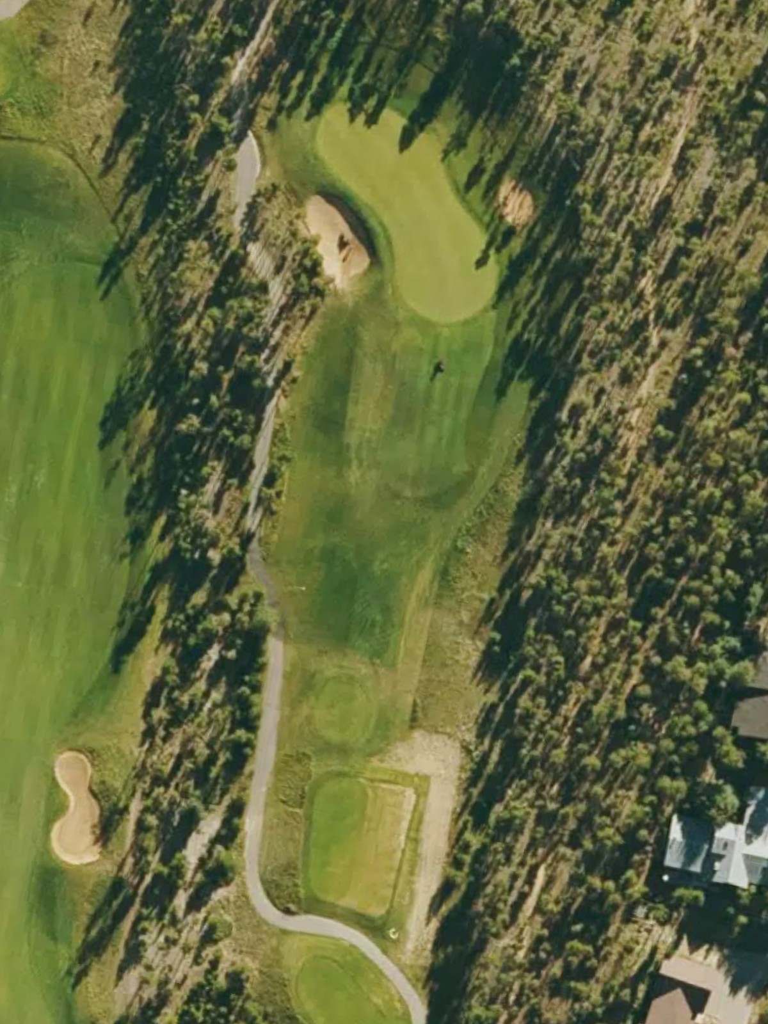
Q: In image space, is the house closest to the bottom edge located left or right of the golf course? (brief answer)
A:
right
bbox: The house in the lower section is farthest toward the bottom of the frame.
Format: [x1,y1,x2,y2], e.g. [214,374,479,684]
[645,956,731,1024]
